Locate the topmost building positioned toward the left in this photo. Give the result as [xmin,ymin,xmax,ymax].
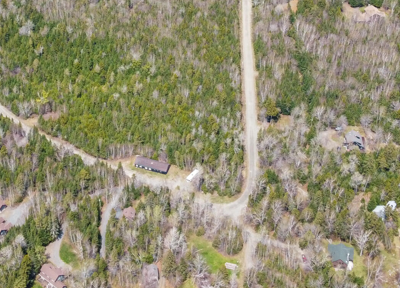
[132,156,173,177]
